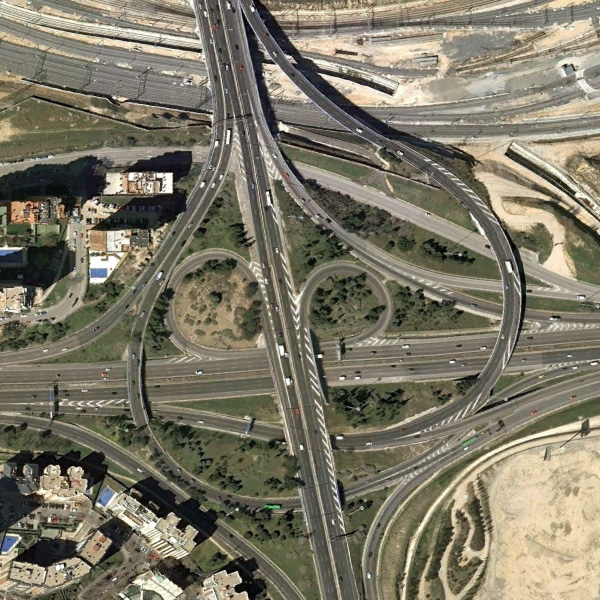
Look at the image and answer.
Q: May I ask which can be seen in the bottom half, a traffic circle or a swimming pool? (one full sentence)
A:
Visible in the bottom half is a swimming pool.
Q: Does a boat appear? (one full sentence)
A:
No, I find no boat anywhere in the image.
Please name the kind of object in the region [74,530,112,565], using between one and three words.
building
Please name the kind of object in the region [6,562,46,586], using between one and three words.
building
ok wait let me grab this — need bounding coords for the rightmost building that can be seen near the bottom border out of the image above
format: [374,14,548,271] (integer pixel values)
[198,570,250,600]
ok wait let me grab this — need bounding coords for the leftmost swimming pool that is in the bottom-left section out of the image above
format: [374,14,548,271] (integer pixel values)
[0,533,23,555]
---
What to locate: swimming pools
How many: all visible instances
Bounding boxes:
[95,484,119,509]
[0,533,23,555]
[90,254,128,283]
[0,246,27,266]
